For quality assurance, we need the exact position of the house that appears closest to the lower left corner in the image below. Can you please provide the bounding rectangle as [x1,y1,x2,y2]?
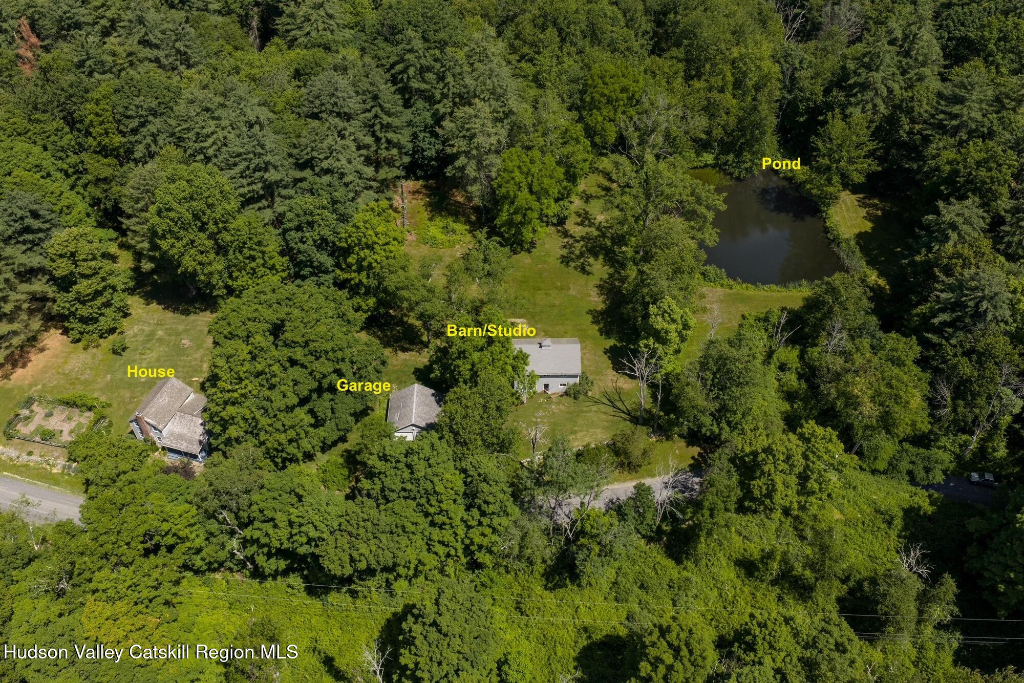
[128,377,226,463]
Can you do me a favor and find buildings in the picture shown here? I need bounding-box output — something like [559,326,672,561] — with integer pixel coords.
[513,339,581,393]
[385,383,443,443]
[128,377,226,463]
